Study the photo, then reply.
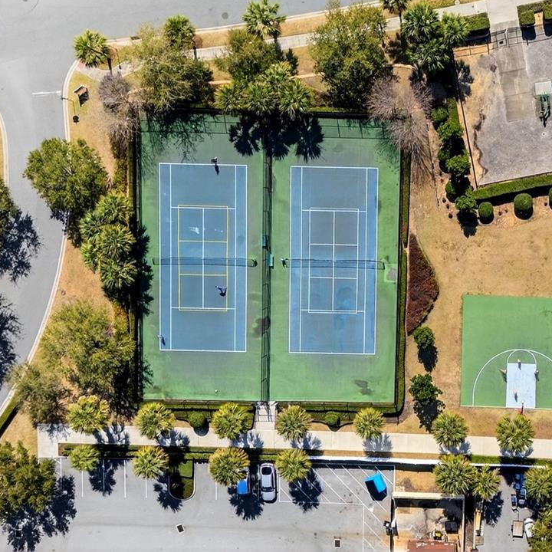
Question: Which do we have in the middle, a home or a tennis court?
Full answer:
There is a tennis court in the middle.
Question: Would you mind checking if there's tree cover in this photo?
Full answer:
Yes, the picture does contain tree cover.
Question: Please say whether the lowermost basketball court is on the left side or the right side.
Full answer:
The lowermost basketball court sits on the right side.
